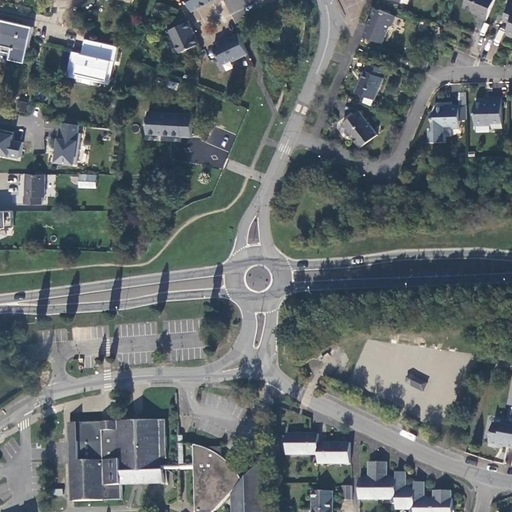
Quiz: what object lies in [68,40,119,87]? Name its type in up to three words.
house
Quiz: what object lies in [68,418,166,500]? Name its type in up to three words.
building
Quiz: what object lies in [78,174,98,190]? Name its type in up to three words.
shed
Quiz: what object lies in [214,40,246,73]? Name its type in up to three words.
house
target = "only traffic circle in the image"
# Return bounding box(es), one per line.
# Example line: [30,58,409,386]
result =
[225,245,293,317]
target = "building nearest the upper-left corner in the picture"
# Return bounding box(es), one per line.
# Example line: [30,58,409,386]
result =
[0,20,34,68]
